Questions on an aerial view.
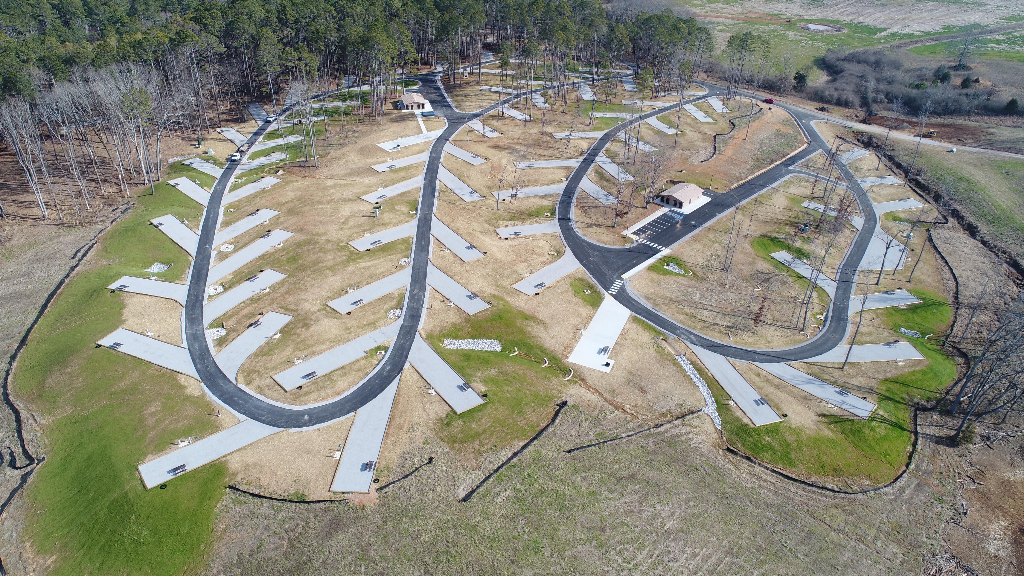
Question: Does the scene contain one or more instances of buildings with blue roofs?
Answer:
No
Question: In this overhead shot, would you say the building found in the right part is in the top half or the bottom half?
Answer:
top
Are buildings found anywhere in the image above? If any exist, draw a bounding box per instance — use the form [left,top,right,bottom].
[403,90,427,109]
[658,179,705,208]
